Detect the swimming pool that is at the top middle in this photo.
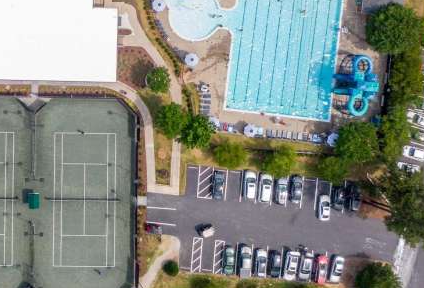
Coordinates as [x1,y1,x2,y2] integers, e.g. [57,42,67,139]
[164,0,346,124]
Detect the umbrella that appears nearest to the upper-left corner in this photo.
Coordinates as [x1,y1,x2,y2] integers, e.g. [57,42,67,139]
[151,0,166,12]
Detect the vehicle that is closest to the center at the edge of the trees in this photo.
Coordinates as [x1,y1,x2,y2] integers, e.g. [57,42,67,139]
[211,170,226,198]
